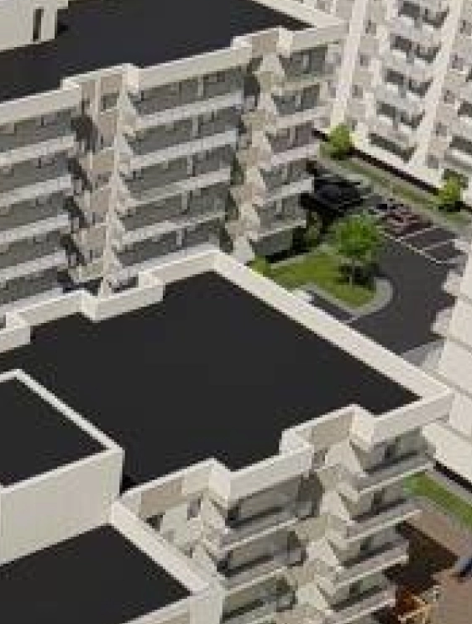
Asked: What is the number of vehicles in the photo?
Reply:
three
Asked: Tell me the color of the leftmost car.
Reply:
black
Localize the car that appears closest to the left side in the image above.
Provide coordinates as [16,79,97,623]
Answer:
[326,177,373,206]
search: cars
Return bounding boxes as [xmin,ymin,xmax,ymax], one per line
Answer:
[387,211,434,235]
[326,177,373,206]
[367,198,416,225]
